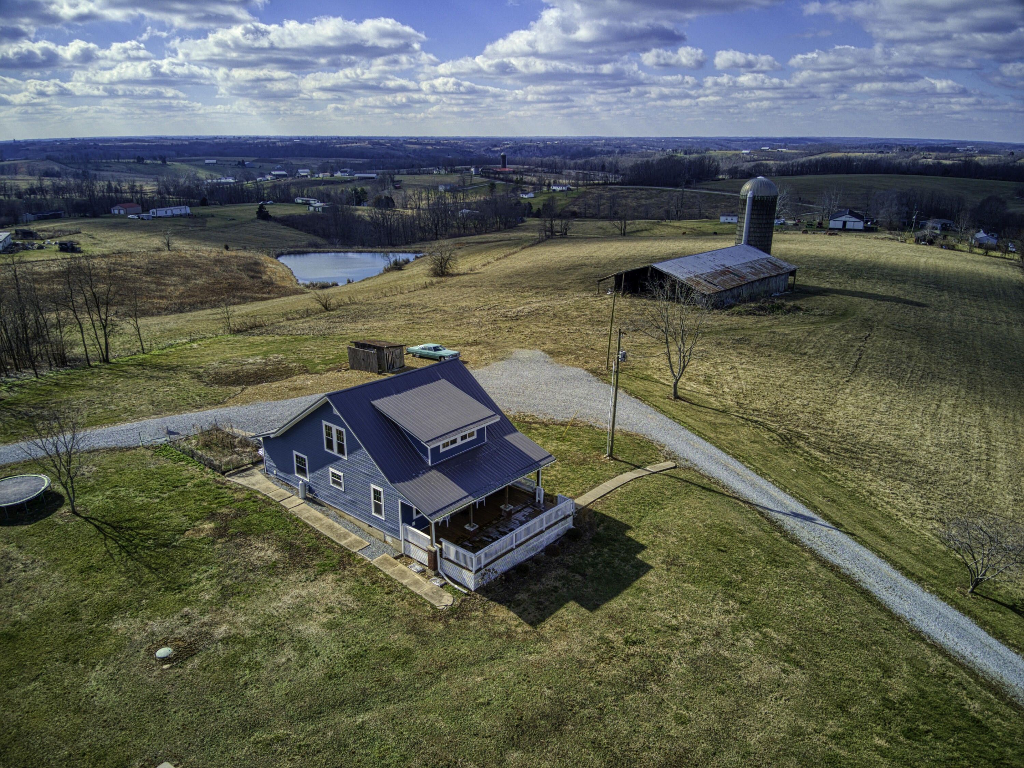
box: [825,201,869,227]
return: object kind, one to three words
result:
barn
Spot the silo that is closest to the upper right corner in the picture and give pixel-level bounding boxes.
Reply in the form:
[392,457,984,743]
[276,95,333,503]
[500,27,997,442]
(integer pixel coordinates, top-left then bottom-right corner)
[737,174,781,258]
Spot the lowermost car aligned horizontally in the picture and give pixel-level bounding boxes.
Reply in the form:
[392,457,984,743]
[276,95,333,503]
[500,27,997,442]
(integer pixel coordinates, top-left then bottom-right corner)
[404,340,466,361]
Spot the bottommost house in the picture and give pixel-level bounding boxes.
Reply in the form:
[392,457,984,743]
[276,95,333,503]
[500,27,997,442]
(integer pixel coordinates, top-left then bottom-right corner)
[252,357,574,596]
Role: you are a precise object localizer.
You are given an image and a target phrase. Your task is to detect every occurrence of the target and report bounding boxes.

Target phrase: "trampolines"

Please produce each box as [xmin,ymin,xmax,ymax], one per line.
[0,470,52,511]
